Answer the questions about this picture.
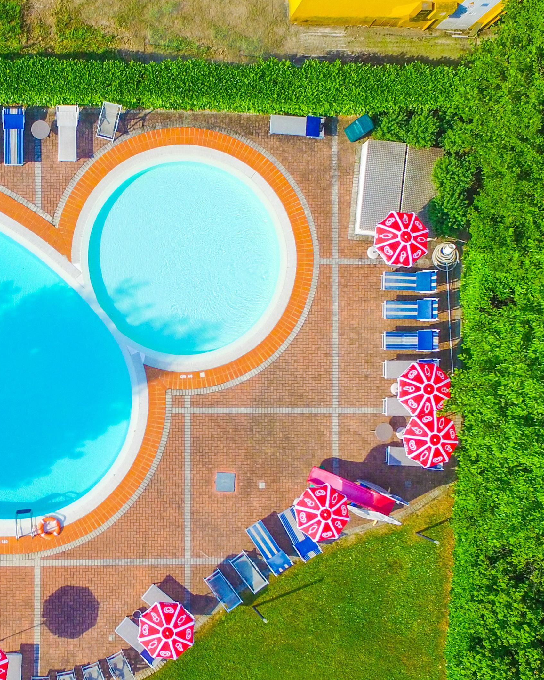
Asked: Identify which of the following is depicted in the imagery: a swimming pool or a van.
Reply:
swimming pool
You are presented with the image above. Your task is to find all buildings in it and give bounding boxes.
[355,140,445,239]
[291,0,520,39]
